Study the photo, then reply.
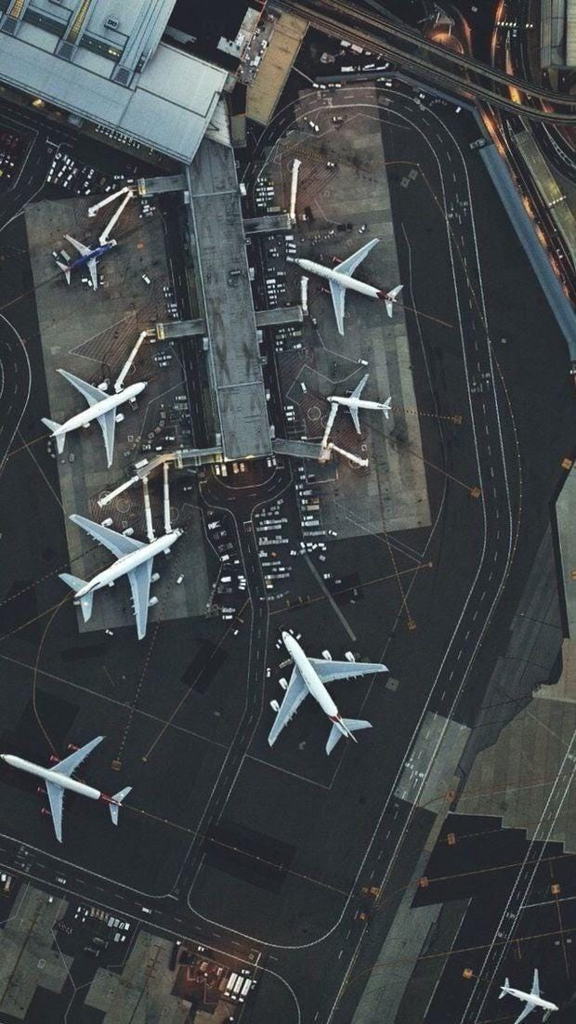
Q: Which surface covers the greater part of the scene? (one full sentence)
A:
What you mostly see from above here is paved ground.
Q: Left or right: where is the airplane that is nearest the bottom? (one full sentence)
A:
It is on the right.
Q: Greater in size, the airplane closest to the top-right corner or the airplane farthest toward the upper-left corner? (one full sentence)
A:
The larger object is the airplane closest to the top-right corner, with the airplane farthest toward the upper-left corner being the smaller of the pair.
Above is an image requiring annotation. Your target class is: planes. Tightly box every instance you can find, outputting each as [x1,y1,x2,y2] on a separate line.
[294,237,405,336]
[498,967,558,1024]
[57,514,183,642]
[328,373,391,436]
[1,736,133,845]
[56,235,117,294]
[40,369,147,468]
[270,631,392,757]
